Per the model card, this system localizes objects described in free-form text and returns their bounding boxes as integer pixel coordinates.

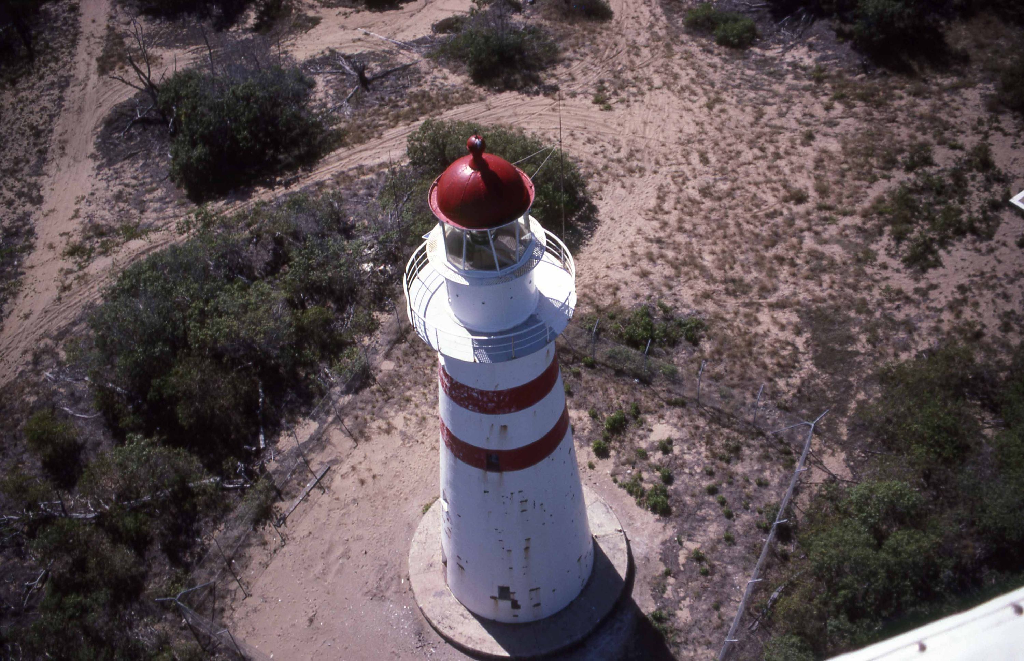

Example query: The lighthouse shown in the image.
[400,123,627,661]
